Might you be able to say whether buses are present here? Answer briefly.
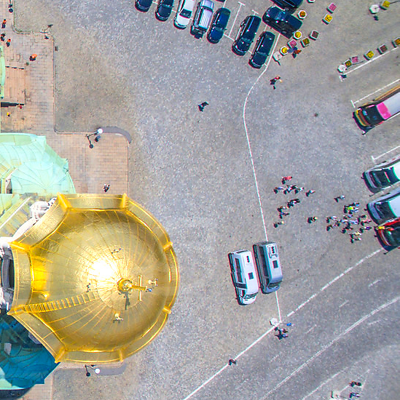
Yes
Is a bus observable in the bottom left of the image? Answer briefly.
No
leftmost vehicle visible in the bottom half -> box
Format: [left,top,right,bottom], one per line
[230,252,259,301]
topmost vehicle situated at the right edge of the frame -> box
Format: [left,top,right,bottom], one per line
[359,94,400,133]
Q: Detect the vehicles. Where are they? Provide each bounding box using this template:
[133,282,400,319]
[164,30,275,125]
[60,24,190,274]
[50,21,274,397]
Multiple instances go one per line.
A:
[255,243,284,291]
[173,0,194,28]
[263,7,301,35]
[207,9,229,43]
[249,32,275,67]
[368,162,400,196]
[230,252,259,301]
[233,17,260,53]
[381,225,400,254]
[359,94,400,133]
[134,0,153,11]
[191,0,213,36]
[155,0,174,20]
[274,0,302,11]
